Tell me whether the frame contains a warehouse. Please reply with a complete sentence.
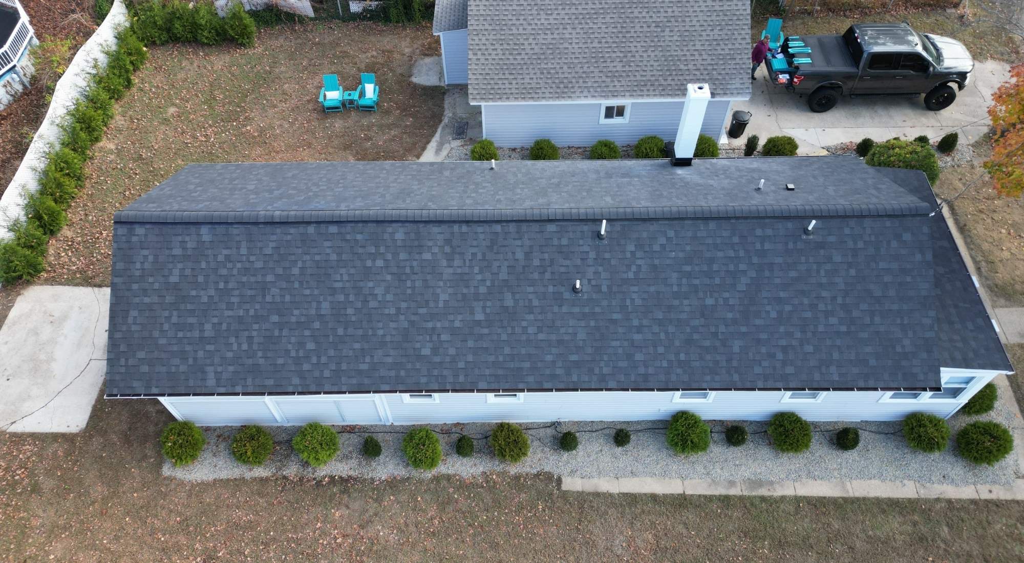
No, there isn't any warehouse down there.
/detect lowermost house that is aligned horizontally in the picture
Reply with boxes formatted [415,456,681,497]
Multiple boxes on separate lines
[106,84,1014,427]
